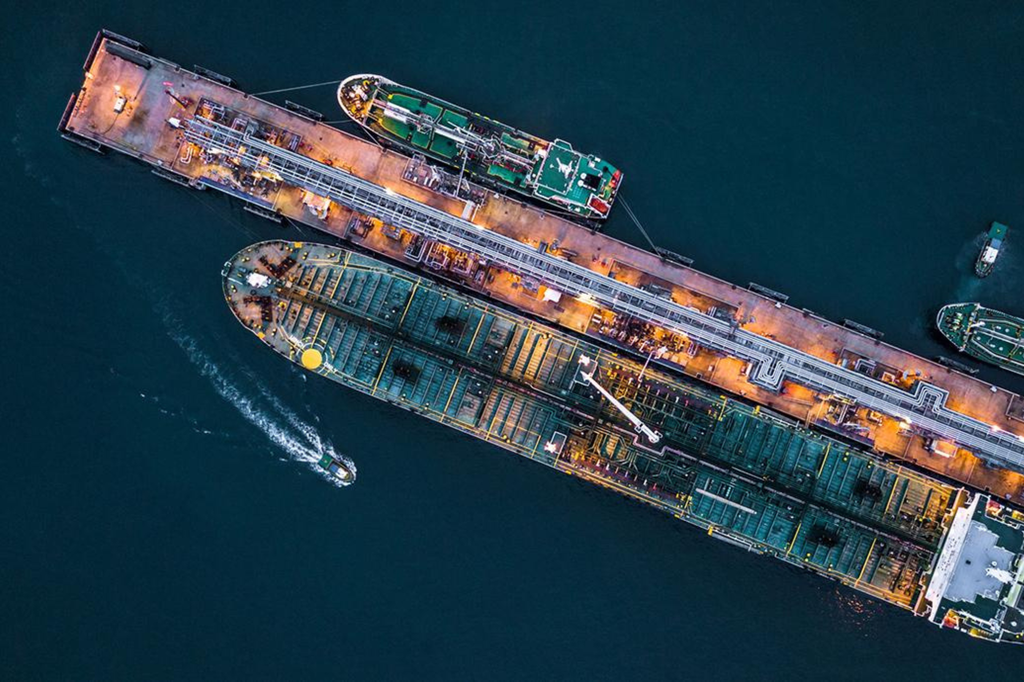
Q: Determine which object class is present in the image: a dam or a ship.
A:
ship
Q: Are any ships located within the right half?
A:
Yes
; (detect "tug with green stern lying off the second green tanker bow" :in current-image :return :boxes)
[976,221,1011,279]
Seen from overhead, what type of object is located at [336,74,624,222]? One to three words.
ship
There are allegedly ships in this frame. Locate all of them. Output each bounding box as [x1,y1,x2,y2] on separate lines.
[336,74,624,222]
[934,302,1024,377]
[221,236,1024,646]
